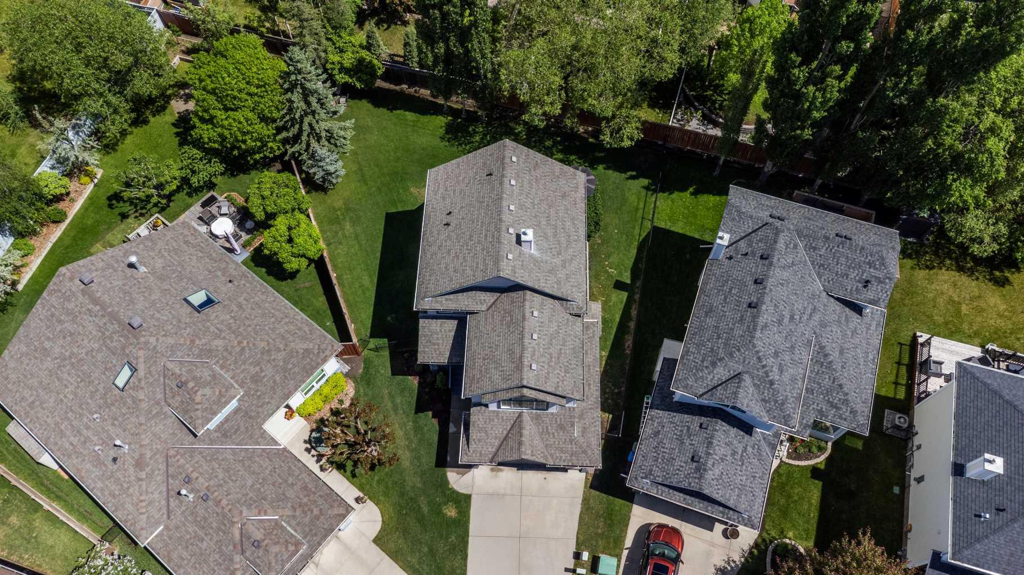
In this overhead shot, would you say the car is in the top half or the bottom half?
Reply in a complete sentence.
It is in the bottom half that the car appears.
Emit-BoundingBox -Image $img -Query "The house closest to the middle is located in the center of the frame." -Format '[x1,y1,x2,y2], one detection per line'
[412,140,603,471]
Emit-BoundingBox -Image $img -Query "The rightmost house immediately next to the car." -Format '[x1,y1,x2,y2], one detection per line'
[625,182,904,535]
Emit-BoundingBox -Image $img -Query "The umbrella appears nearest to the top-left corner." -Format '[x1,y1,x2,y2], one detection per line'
[221,229,241,256]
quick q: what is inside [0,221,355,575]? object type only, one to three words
house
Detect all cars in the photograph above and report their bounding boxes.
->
[637,522,686,575]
